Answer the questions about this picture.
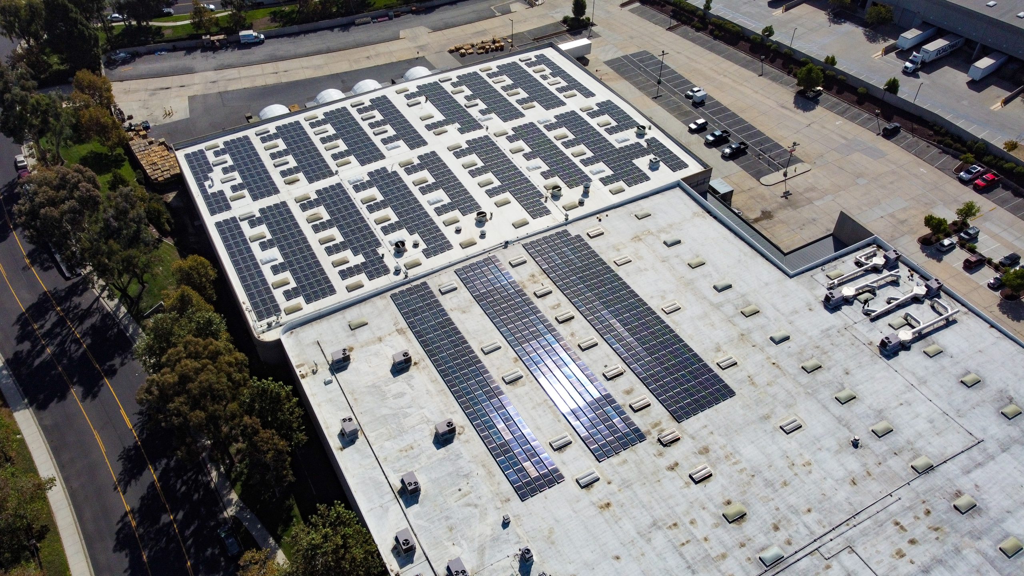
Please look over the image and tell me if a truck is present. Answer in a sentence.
Yes, I can see a truck in this picture.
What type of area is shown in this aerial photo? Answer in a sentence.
What you see here is an industrial area.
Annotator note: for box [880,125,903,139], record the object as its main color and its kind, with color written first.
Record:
black car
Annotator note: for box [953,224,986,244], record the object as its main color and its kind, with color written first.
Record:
gray vehicle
